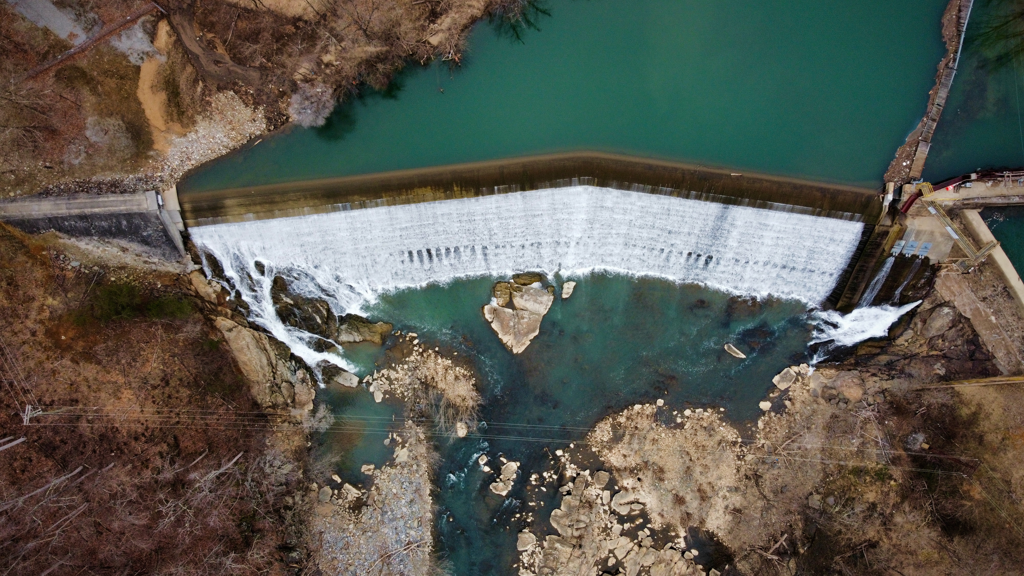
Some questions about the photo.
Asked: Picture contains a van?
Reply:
No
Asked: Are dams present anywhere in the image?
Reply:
Yes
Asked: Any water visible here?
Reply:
Yes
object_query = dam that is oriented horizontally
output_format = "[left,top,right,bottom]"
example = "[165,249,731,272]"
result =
[186,146,880,303]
